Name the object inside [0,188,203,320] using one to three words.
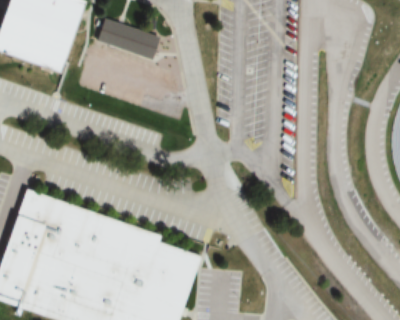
building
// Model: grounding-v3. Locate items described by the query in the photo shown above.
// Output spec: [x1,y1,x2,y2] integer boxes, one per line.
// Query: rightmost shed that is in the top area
[98,18,159,58]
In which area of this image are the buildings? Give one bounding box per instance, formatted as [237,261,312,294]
[0,188,203,320]
[98,18,159,58]
[0,0,86,74]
